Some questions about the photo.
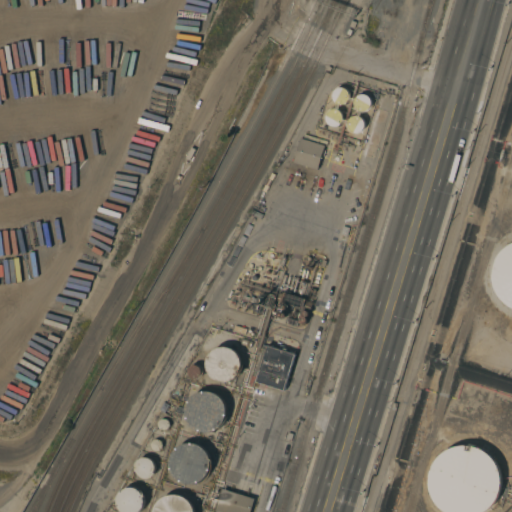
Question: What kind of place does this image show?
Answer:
industrial area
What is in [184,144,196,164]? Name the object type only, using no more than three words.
vehicle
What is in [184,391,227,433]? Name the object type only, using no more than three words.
storage tank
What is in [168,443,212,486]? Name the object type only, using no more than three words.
storage tank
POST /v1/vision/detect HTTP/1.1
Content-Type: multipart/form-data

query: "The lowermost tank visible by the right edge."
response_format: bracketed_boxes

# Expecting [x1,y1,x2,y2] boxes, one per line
[427,444,502,512]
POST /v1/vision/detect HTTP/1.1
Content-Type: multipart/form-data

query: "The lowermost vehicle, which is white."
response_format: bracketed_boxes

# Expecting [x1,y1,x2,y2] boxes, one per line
[266,475,280,512]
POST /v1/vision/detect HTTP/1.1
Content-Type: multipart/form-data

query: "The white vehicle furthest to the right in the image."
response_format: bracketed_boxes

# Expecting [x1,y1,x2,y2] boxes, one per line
[448,137,466,184]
